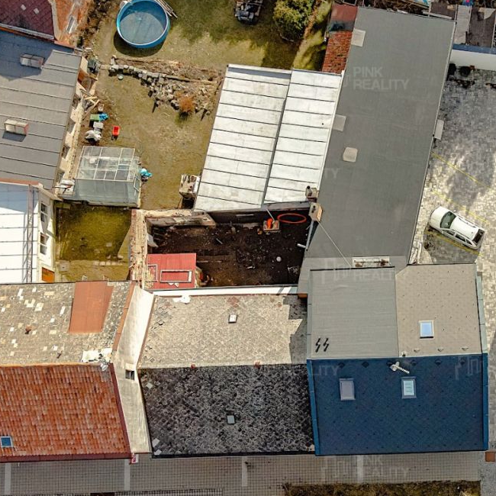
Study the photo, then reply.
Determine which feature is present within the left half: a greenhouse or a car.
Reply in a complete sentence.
The one visible within the left half is a greenhouse.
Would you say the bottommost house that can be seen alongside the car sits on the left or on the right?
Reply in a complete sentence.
The bottommost house that can be seen alongside the car is on the right side of the image.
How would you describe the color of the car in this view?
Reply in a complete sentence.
From above, the car appears white.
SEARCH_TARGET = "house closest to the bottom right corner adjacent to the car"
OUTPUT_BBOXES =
[304,262,491,457]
